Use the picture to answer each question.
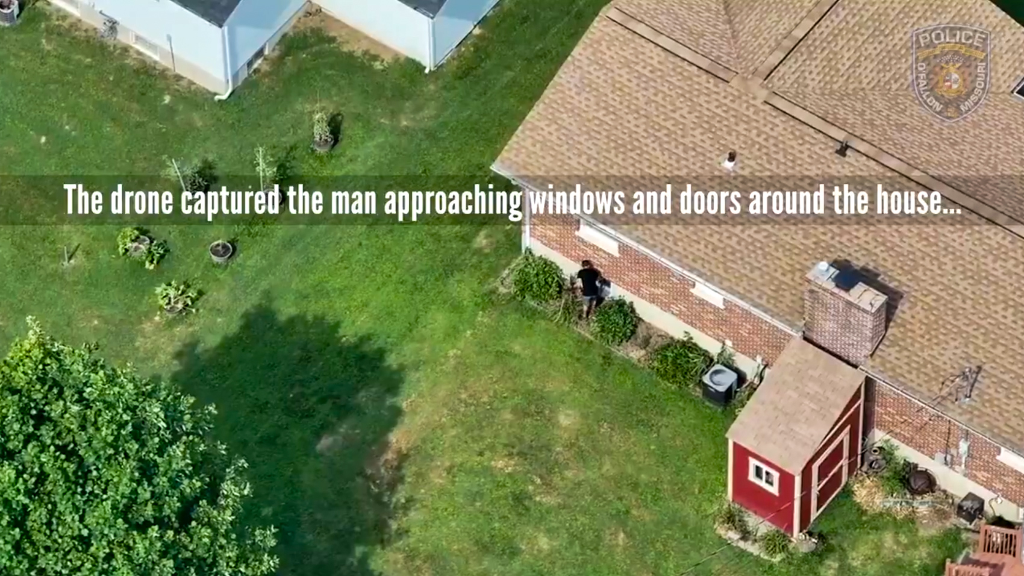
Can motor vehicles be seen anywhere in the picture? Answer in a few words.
No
